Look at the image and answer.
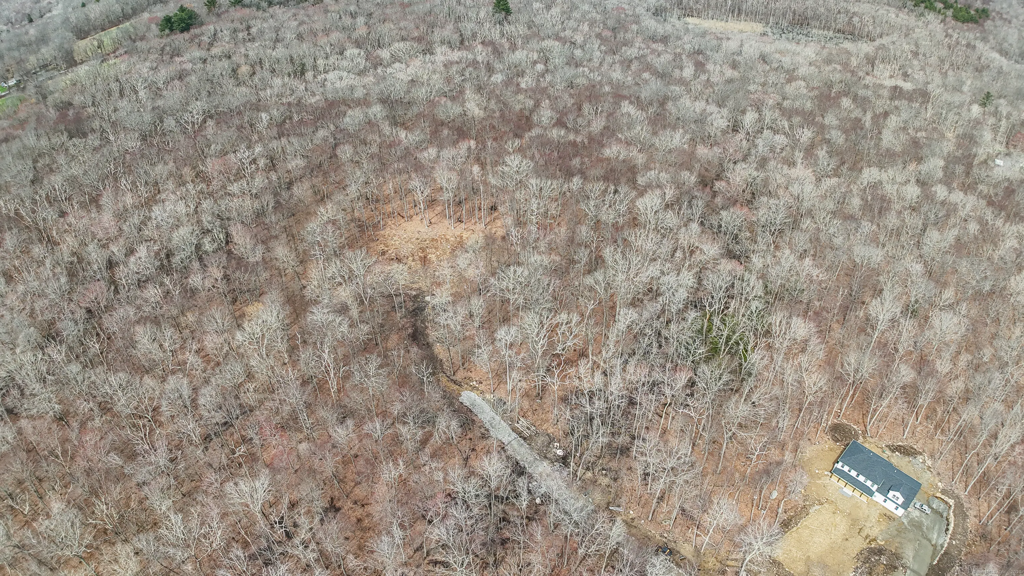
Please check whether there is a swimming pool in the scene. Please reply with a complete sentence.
No, the photo shows no swimming pool.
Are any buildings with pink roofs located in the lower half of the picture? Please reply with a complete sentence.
No, there is no building with a pink roof in the lower half of the picture.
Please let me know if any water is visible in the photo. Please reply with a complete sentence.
No, no water is visible.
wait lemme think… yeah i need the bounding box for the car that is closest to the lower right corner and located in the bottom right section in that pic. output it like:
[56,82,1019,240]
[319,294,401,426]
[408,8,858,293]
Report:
[914,501,933,515]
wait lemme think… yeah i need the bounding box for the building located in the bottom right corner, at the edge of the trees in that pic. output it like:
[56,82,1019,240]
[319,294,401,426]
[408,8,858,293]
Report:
[828,440,922,515]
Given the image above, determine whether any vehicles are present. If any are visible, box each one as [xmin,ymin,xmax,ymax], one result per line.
[914,501,933,515]
[656,545,675,560]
